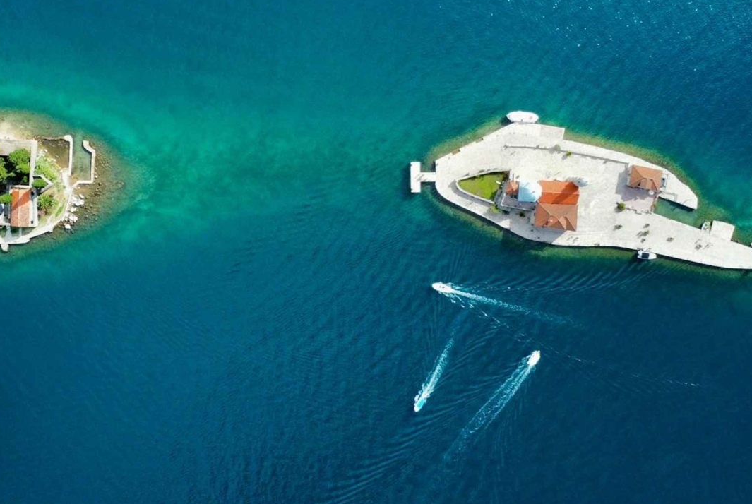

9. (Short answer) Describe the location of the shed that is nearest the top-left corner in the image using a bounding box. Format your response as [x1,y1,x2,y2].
[0,140,38,176]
